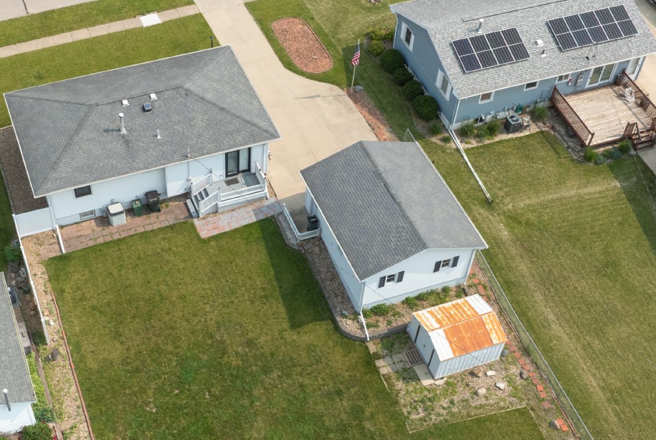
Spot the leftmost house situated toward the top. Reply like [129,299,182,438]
[3,44,281,220]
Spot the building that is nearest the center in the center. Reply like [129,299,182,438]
[298,138,489,339]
